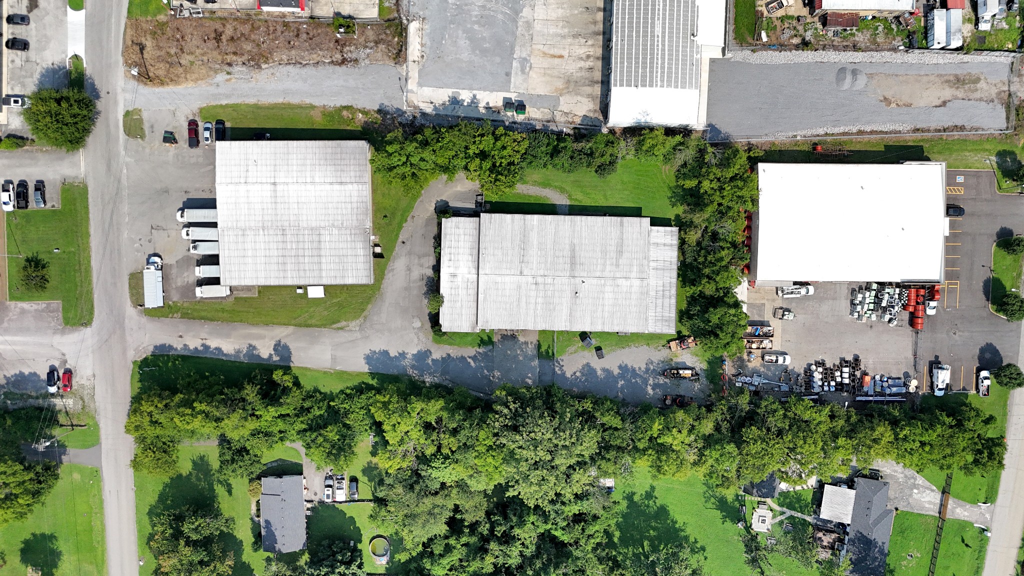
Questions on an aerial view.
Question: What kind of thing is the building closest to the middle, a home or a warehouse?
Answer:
warehouse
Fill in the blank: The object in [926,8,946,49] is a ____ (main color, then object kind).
white trailer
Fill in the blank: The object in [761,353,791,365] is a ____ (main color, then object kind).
white vehicle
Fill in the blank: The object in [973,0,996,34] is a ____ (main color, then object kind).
white truck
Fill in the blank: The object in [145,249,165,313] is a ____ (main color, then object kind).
white vehicle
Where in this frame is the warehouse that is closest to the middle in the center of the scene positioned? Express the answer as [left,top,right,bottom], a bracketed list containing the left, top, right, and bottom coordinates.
[440,213,679,335]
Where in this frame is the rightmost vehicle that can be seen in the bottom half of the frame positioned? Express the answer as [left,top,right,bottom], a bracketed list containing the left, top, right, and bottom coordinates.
[977,369,991,398]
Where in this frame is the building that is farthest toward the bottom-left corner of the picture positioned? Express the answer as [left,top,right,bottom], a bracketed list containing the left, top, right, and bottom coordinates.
[261,476,308,552]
